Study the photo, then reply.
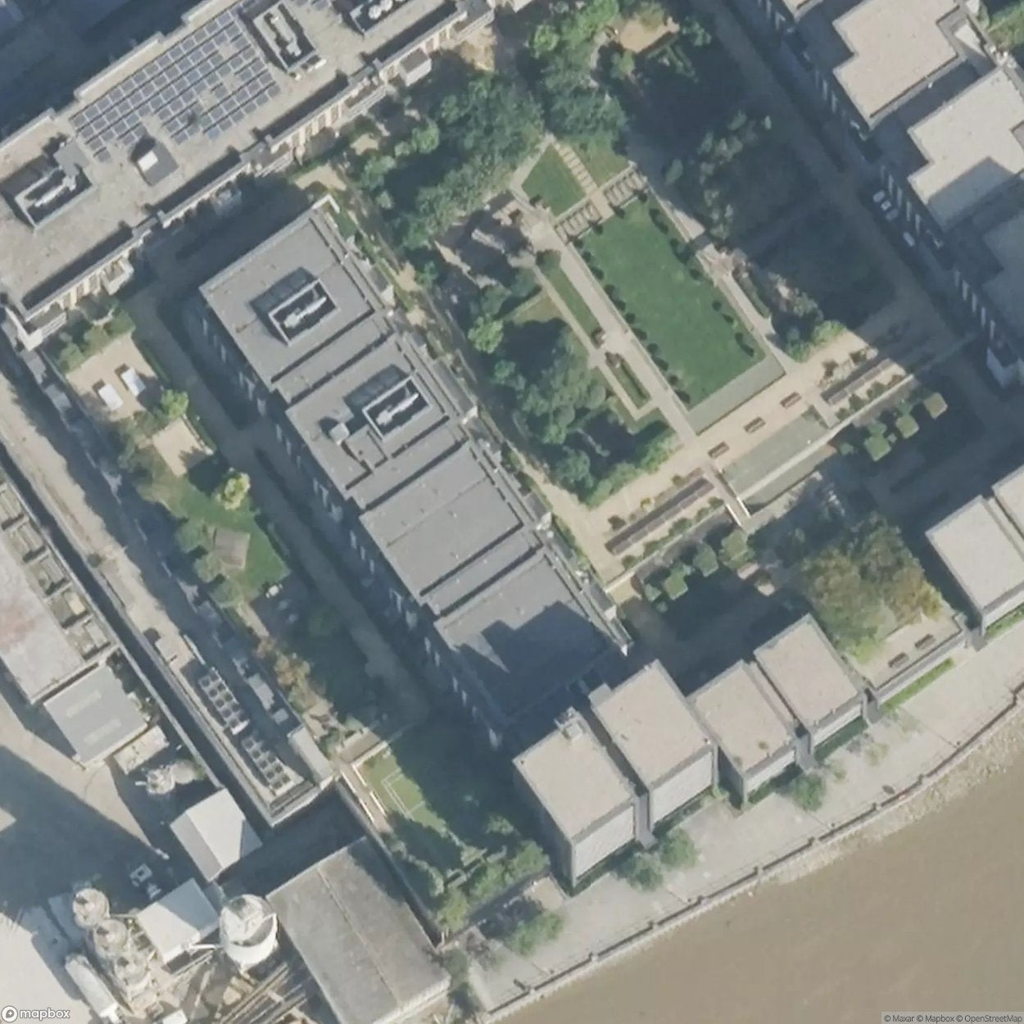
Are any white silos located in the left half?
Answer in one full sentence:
Yes, a white silo shows up in the left half.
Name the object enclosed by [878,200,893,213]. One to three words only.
vehicle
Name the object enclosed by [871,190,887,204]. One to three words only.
car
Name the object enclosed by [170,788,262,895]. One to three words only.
shed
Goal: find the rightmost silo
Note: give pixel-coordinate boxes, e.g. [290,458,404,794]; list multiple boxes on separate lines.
[219,892,278,992]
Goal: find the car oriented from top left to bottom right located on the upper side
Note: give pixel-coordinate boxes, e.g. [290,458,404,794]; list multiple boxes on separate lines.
[901,231,916,247]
